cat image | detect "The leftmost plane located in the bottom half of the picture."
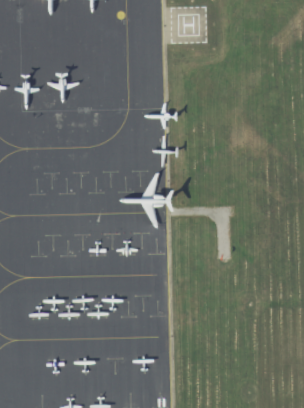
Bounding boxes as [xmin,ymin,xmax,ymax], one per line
[30,304,51,320]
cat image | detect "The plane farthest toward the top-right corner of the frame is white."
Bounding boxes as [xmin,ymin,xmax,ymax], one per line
[146,102,176,130]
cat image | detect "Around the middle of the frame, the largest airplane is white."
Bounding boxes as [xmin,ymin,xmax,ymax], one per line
[120,172,174,228]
